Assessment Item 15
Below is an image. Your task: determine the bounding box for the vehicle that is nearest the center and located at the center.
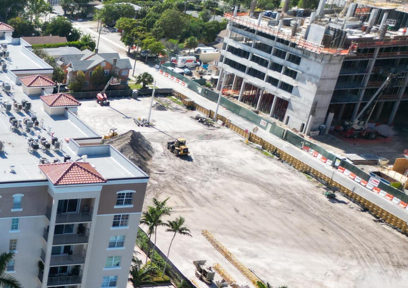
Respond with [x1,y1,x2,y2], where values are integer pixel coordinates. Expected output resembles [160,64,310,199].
[159,137,194,156]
